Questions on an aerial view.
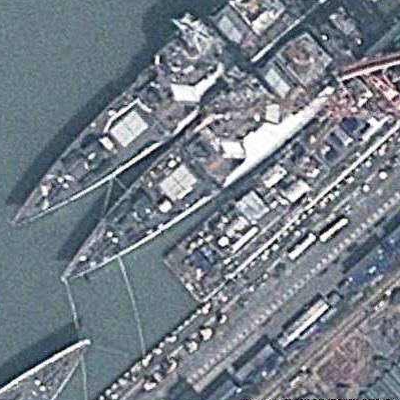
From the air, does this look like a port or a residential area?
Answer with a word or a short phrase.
port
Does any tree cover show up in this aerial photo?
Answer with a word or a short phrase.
No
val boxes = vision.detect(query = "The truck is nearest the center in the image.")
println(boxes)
[287,234,319,262]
